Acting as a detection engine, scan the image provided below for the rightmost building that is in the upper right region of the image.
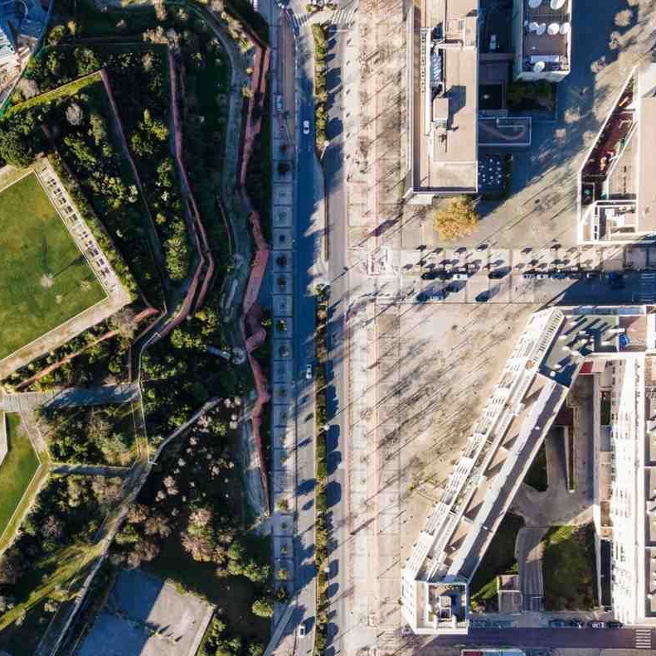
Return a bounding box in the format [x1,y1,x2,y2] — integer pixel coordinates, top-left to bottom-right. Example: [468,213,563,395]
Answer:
[574,62,656,247]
